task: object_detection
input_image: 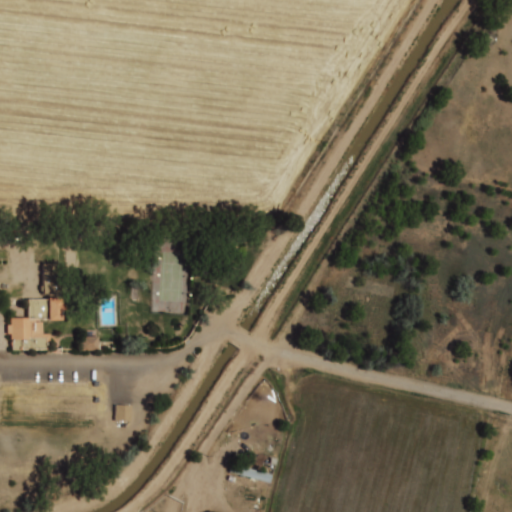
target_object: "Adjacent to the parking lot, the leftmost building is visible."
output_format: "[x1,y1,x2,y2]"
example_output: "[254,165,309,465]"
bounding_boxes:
[6,299,64,350]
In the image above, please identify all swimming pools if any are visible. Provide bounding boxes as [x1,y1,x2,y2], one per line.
[101,298,116,326]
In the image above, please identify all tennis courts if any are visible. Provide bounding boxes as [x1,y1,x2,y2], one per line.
[152,240,188,313]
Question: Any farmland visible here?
Yes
